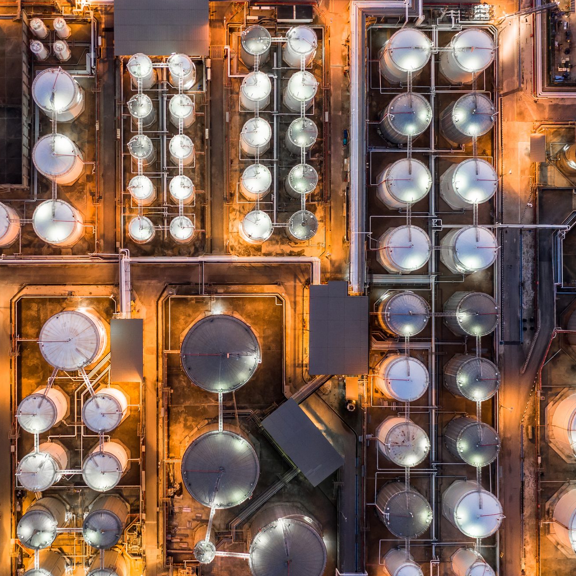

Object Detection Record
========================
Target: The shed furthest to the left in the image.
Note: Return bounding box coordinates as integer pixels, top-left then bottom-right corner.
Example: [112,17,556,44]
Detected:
[110,318,145,381]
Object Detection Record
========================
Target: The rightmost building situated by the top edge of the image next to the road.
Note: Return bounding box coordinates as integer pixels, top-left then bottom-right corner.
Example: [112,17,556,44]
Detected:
[277,5,313,24]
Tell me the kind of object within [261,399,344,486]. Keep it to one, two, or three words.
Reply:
shed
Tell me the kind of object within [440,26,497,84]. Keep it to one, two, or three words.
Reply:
storage tank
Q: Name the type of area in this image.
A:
industrial area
